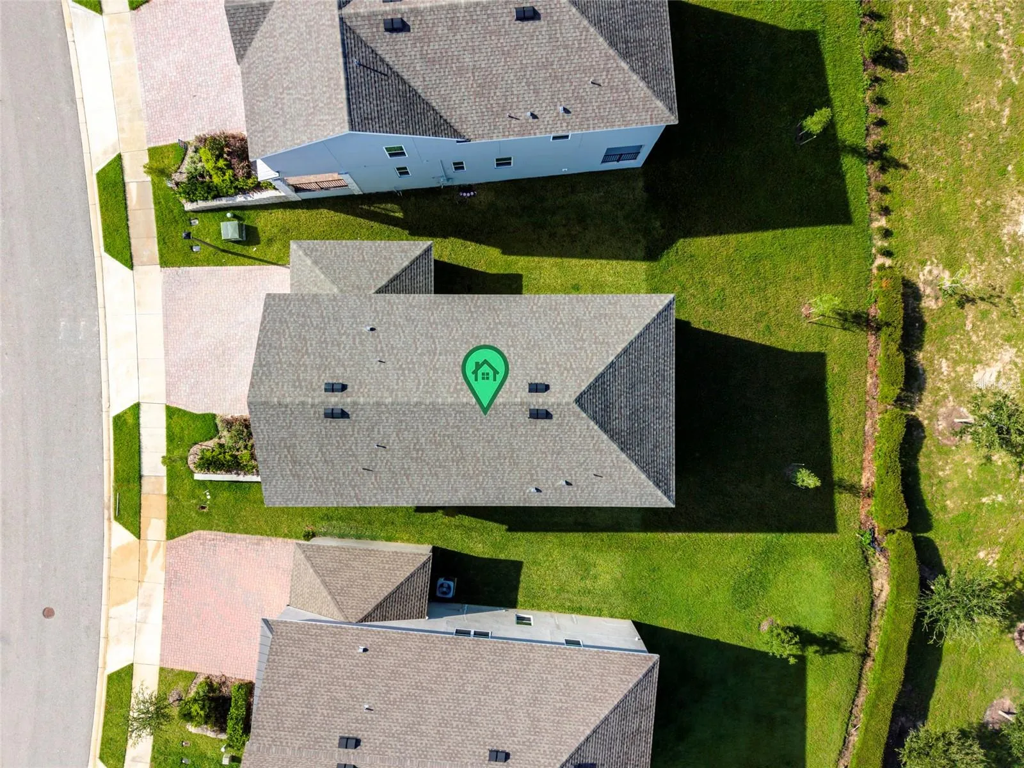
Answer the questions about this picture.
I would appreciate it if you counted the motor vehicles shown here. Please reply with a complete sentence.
Not a single motor vehicle can be seen.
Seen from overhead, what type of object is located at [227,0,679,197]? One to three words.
house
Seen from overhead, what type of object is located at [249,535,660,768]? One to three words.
house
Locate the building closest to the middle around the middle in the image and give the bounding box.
[248,239,676,509]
